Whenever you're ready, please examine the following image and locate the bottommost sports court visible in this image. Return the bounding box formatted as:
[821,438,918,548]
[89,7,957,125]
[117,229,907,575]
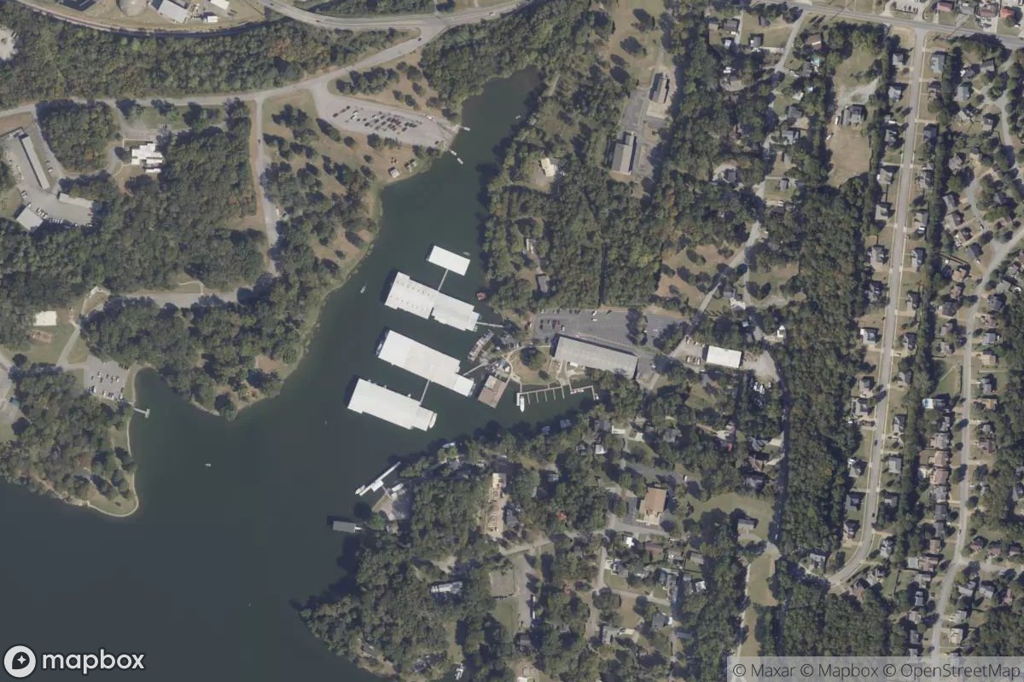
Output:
[491,571,514,598]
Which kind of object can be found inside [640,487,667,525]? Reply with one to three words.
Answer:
building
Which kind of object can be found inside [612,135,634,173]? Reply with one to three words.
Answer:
building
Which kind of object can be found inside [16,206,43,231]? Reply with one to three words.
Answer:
shed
